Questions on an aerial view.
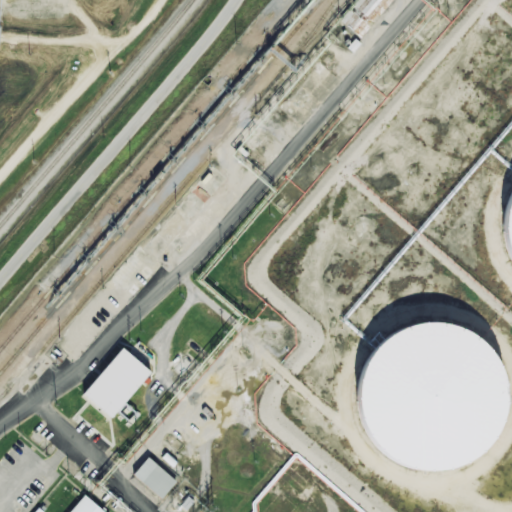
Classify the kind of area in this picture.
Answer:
industrial area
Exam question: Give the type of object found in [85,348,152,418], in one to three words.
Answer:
building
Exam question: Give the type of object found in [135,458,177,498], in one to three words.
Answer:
building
